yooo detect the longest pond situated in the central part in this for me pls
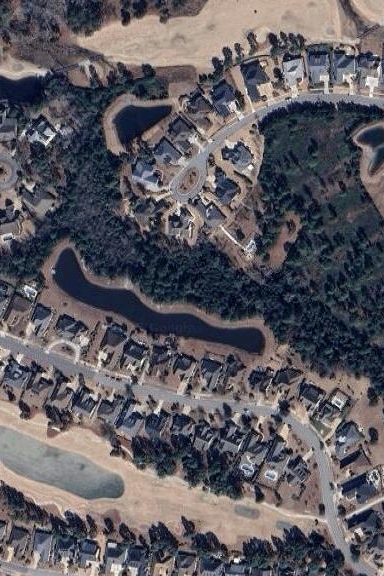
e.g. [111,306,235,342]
[50,244,267,357]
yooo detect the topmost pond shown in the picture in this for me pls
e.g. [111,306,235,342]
[0,71,48,109]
